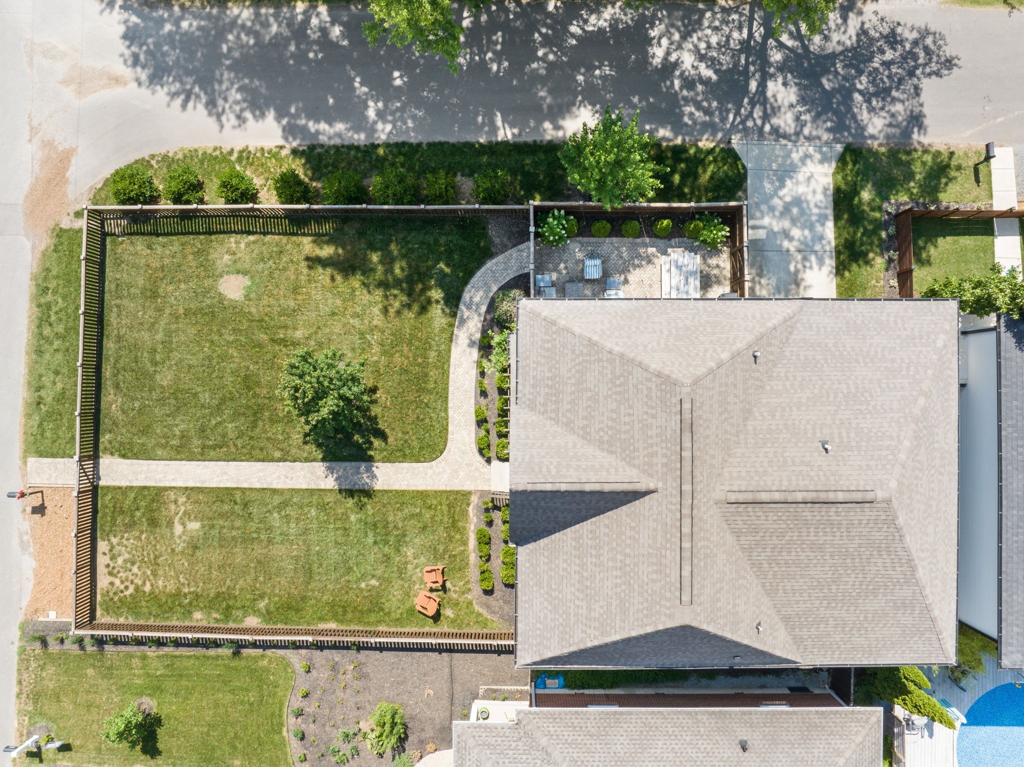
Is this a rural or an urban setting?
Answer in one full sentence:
The area shown here is urban.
